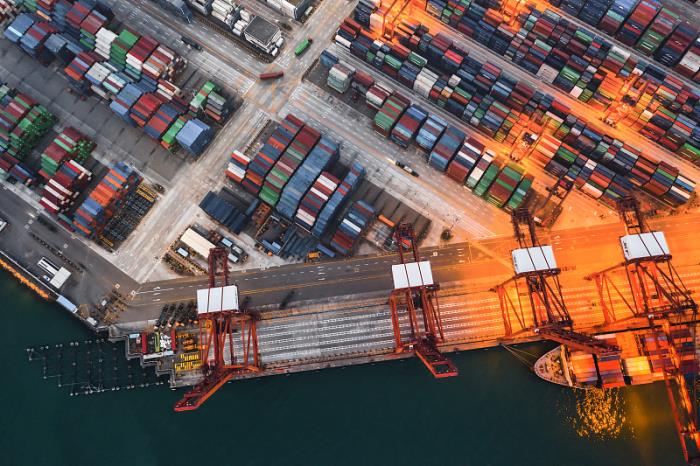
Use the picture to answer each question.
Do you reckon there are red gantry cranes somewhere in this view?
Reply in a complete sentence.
Yes, looking at the shot, I can spot a red gantry crane.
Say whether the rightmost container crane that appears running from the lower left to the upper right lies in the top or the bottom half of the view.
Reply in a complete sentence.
The rightmost container crane that appears running from the lower left to the upper right is in the top half of the image.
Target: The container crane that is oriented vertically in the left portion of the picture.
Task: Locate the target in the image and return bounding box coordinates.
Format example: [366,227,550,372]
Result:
[172,247,265,417]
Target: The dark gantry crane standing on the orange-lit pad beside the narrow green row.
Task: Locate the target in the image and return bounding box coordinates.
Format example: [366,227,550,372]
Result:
[529,173,573,226]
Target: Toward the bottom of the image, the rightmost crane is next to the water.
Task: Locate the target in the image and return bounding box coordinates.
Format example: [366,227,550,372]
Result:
[578,197,700,458]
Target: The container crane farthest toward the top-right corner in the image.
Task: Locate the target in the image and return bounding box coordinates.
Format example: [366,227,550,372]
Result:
[603,67,651,121]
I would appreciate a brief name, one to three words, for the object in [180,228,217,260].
shed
